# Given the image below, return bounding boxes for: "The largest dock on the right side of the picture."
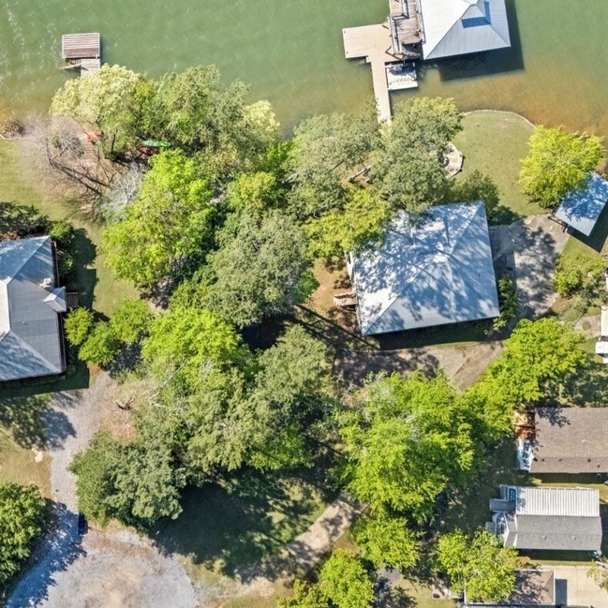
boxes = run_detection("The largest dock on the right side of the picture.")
[340,23,405,128]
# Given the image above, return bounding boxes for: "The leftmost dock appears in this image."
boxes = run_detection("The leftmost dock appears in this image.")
[61,32,101,114]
